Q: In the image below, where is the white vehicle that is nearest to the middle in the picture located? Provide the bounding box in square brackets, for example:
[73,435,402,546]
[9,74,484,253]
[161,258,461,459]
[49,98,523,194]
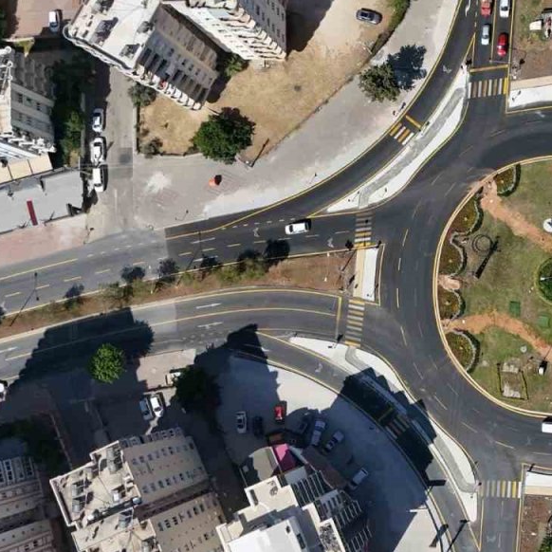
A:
[285,220,311,234]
